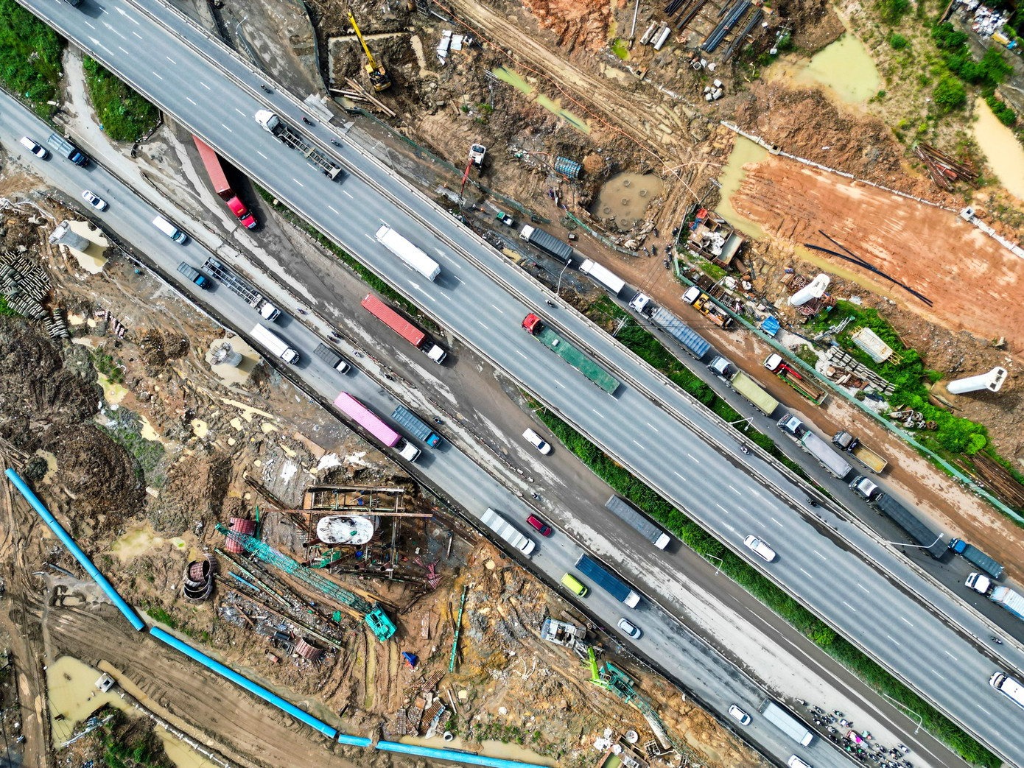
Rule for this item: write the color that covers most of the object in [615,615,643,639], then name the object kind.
white car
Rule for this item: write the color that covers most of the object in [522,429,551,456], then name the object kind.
white truck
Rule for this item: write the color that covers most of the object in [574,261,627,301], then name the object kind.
white truck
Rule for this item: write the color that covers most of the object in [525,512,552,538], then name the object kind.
red car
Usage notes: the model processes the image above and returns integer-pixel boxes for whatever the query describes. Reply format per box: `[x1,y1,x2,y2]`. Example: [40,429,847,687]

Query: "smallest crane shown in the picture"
[346,9,394,93]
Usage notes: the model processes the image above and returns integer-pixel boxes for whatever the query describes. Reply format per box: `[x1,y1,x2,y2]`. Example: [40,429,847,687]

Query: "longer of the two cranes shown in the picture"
[214,523,407,650]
